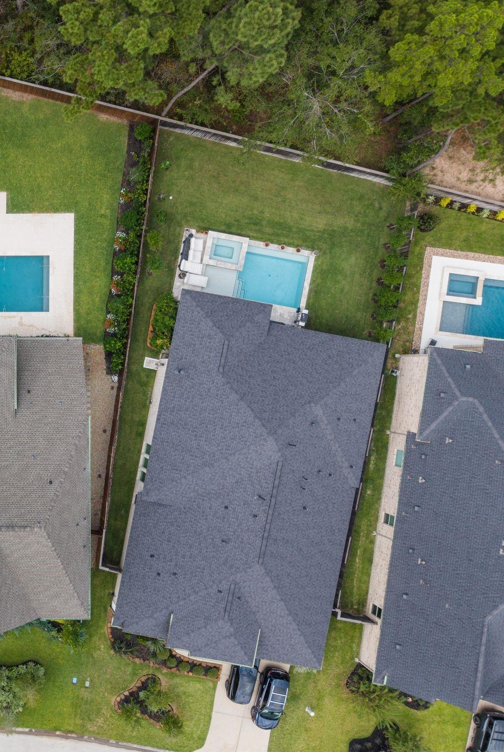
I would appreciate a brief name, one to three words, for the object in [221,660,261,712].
car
